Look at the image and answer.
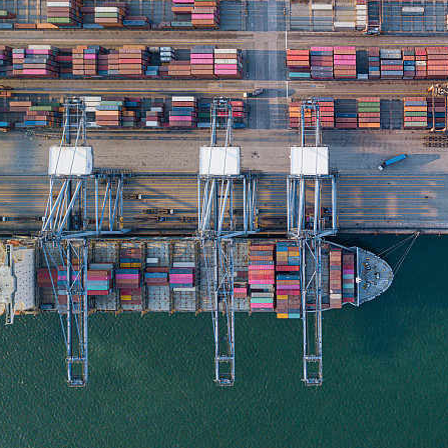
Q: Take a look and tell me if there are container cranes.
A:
Yes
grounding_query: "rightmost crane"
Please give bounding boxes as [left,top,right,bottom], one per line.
[425,82,448,134]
